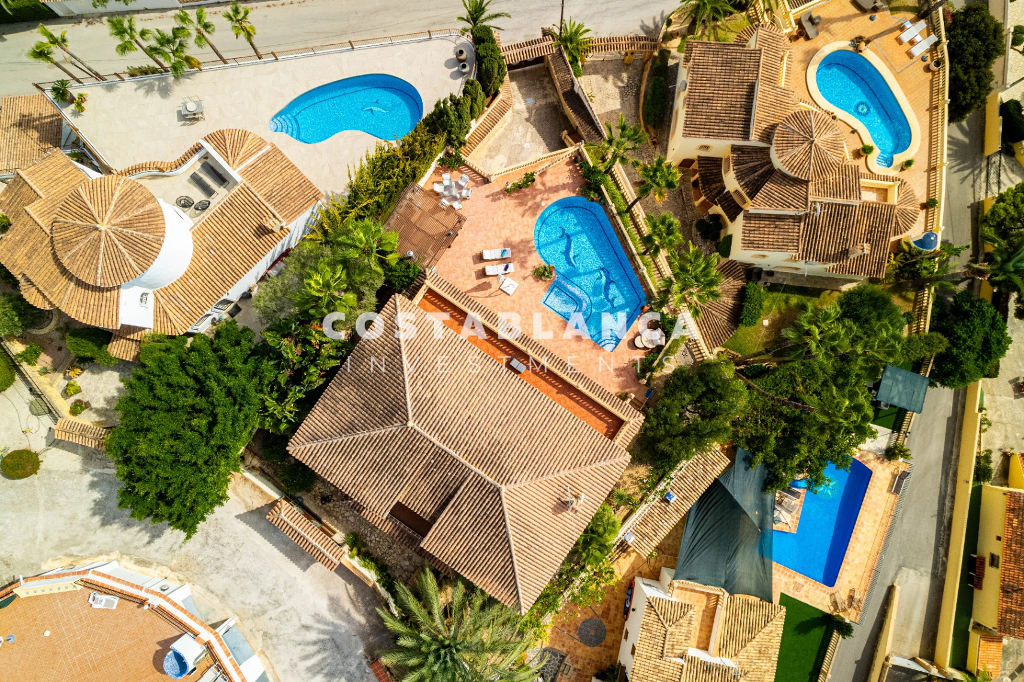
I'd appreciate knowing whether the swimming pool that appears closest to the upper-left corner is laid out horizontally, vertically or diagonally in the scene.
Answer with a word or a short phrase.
horizontally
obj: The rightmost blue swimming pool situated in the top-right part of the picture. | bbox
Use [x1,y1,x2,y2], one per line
[807,40,920,173]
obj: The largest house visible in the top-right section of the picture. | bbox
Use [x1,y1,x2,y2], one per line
[666,21,922,282]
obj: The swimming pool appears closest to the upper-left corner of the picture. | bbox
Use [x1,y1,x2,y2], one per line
[270,74,423,143]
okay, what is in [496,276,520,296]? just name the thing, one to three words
umbrella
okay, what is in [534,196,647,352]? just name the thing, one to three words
swimming pool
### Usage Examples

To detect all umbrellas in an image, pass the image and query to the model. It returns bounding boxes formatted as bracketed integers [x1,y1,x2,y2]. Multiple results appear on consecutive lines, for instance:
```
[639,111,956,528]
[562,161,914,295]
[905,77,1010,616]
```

[775,509,790,527]
[496,276,520,296]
